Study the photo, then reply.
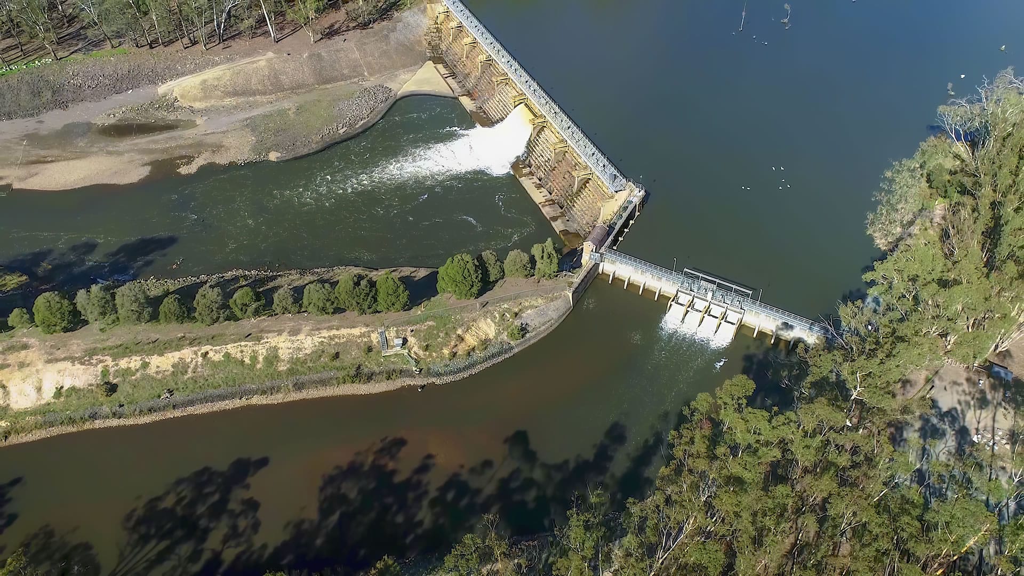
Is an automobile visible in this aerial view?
No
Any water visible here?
Yes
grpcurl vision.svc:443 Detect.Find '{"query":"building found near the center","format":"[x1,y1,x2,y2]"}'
[583,221,609,265]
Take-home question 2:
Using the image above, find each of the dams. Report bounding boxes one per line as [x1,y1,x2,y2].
[436,0,634,242]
